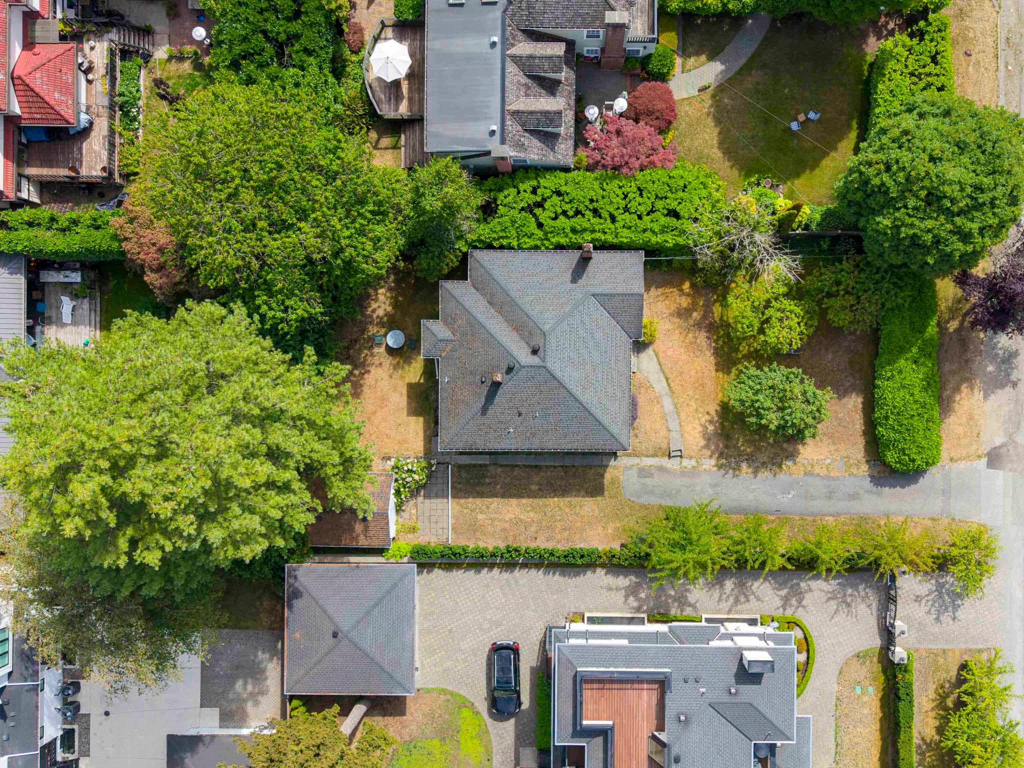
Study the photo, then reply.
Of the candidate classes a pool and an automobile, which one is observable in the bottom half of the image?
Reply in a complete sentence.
Looking in the bottom half of the image, you will find an automobile.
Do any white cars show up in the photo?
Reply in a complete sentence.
No, I can't see a single white car in this photo.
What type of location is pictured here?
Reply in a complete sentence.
What you see here is a residential area.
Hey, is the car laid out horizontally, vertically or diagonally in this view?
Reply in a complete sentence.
From this overhead view, the car appears to run vertically.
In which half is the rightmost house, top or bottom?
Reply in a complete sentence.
The bottom half of the photo is where the rightmost house is.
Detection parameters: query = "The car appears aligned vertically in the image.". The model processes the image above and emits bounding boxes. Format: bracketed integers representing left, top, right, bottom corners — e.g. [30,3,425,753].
[488,640,522,713]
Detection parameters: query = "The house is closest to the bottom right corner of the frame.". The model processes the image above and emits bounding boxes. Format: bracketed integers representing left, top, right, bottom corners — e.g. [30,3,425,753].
[546,613,815,768]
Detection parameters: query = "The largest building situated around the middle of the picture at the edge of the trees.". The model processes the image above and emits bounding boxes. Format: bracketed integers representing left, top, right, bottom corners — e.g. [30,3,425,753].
[419,241,647,453]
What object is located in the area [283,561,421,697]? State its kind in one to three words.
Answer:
building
